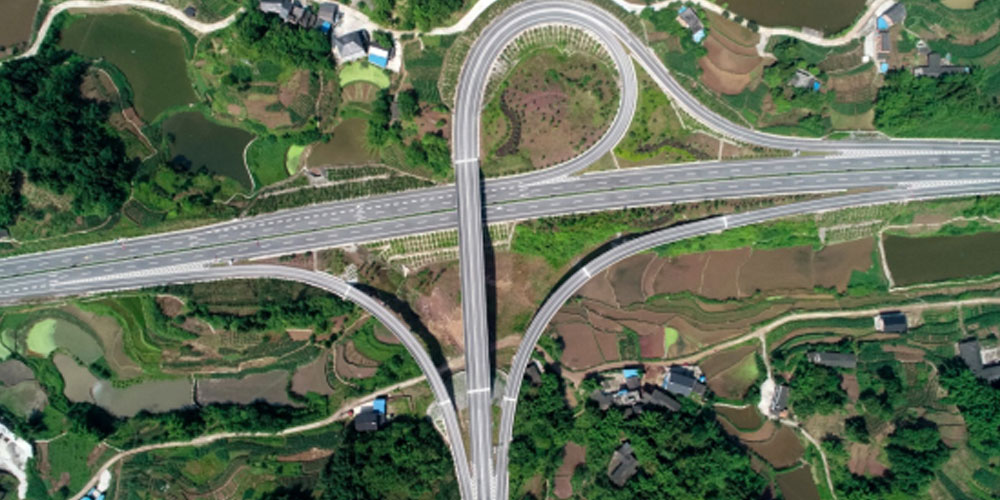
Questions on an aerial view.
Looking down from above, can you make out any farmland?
Yes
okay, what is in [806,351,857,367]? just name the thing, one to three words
barn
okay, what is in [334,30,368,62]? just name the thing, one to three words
house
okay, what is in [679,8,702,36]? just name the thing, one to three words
house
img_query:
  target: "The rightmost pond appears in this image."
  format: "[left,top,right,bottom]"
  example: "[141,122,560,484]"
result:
[883,231,1000,287]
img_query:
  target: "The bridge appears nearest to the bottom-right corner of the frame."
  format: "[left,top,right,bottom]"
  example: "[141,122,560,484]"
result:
[505,217,730,401]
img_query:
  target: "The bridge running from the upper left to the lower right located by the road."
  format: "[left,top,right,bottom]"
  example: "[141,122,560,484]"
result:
[343,288,450,406]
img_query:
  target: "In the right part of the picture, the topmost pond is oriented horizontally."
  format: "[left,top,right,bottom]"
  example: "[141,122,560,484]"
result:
[725,0,867,37]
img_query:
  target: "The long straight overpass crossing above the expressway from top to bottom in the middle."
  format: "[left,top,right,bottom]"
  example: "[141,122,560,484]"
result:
[455,160,490,392]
